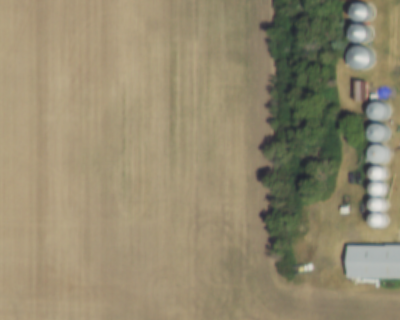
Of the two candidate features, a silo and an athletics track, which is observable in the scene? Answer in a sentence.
This aerial view contains a silo.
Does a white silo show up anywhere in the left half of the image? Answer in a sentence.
No, no white silo can be made out in the left half of the image.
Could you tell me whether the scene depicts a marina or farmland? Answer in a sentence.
It's farmland.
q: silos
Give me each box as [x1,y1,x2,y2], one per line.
[366,143,392,164]
[366,100,392,122]
[367,197,389,213]
[378,85,394,99]
[367,212,389,228]
[367,166,389,182]
[367,182,389,198]
[366,122,392,144]
[349,2,376,22]
[346,44,376,72]
[347,24,374,44]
